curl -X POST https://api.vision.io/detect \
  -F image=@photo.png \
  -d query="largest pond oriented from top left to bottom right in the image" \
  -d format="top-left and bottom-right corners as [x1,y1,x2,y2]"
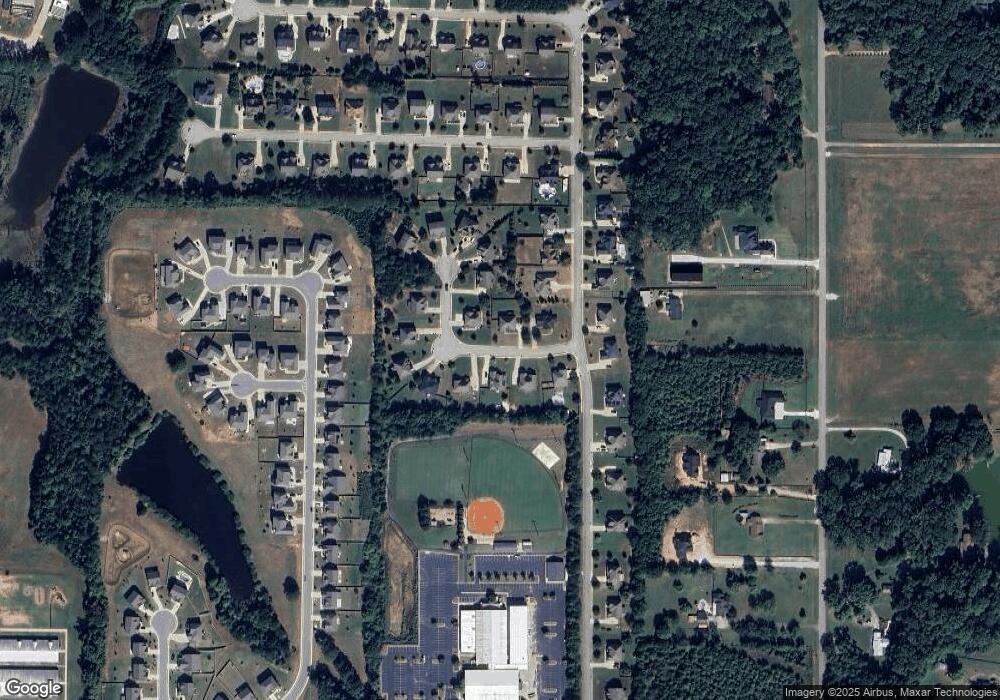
[117,416,254,597]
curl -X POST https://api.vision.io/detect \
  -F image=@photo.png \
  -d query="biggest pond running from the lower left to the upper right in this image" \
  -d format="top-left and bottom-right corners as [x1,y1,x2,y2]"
[8,65,119,228]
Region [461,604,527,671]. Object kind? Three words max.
building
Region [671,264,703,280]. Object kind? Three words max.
barn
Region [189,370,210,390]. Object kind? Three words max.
house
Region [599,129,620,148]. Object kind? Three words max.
house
